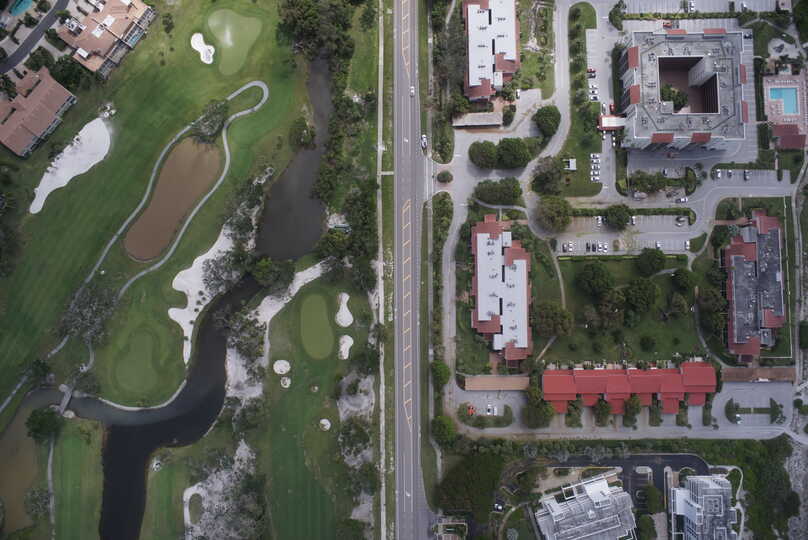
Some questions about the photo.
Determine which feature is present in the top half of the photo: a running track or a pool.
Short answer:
pool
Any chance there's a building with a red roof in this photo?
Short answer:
Yes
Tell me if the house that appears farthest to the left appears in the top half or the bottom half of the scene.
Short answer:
top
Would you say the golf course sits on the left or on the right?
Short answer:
left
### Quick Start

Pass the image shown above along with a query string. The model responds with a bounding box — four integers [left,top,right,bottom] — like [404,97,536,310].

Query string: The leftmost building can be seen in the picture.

[0,54,80,162]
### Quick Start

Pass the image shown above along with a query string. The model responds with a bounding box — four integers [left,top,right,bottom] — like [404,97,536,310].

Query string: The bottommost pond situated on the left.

[125,138,221,261]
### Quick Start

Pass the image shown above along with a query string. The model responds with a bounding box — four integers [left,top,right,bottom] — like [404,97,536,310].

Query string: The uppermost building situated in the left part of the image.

[54,0,156,79]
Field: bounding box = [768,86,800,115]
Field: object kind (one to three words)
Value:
swimming pool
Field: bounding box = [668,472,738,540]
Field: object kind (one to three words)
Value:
building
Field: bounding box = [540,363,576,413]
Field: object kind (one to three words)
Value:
house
